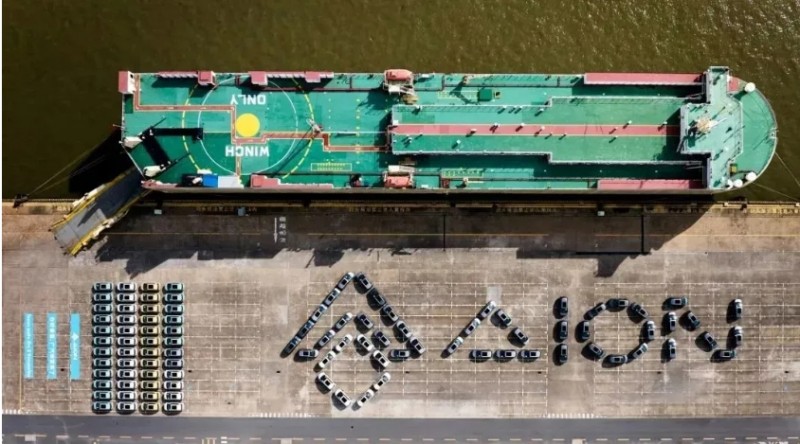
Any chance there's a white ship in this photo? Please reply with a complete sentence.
No, the photo shows no white ship.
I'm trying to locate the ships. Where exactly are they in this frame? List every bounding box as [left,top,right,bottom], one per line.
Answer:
[51,68,779,255]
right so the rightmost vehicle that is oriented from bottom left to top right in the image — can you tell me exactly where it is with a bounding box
[630,342,648,361]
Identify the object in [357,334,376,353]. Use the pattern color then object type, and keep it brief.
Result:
white car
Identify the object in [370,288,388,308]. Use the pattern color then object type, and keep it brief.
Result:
black car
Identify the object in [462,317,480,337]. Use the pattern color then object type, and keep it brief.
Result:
gray car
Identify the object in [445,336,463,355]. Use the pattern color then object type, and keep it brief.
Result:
gray car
